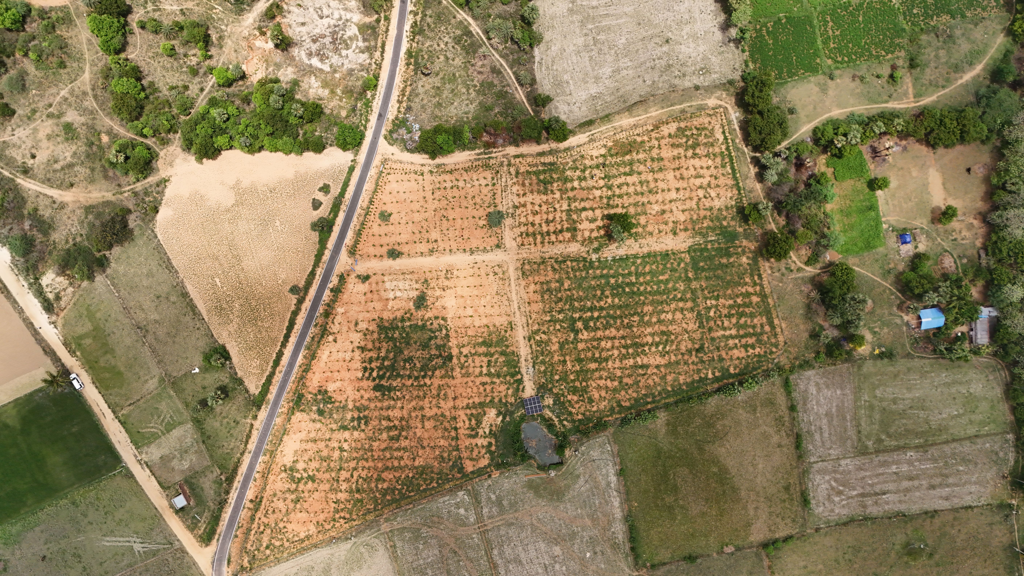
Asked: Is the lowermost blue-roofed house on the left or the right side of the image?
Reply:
right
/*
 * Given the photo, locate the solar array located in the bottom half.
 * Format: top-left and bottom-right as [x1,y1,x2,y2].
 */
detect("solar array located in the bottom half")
[523,396,543,415]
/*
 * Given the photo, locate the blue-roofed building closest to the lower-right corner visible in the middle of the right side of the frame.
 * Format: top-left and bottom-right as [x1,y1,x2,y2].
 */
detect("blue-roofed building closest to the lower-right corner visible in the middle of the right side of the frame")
[912,308,945,330]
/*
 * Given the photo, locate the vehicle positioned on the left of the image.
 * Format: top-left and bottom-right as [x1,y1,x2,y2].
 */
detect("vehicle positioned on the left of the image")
[68,374,83,390]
